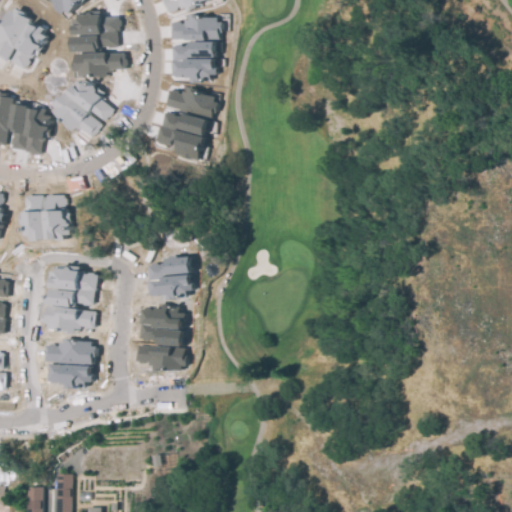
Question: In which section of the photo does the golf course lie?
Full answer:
The golf course sits in the center section of the image.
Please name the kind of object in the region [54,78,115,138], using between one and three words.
house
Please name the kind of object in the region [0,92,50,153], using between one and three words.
house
